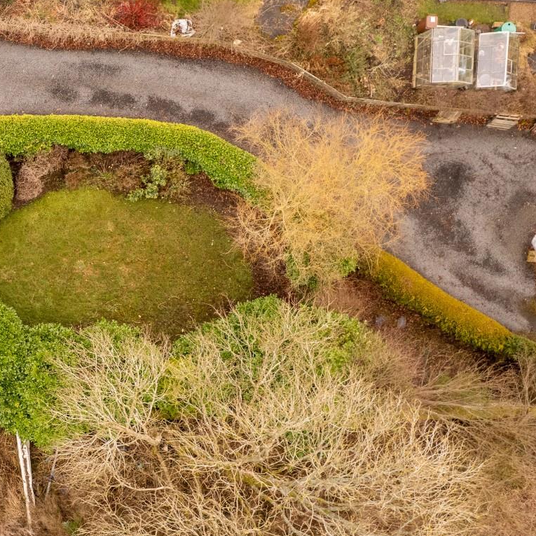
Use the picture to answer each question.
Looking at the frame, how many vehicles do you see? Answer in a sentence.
Not a single vehicle can be seen.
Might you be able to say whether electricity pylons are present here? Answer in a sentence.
No, I can't see a single electricity pylon in this photo.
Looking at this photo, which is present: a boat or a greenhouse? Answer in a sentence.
Of the two, only a greenhouse appears.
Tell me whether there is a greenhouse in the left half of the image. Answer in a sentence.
No, no greenhouse is visible in the left half of the image.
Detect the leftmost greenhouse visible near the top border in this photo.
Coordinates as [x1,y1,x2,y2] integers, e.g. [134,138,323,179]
[414,24,474,90]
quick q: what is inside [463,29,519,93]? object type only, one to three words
greenhouse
